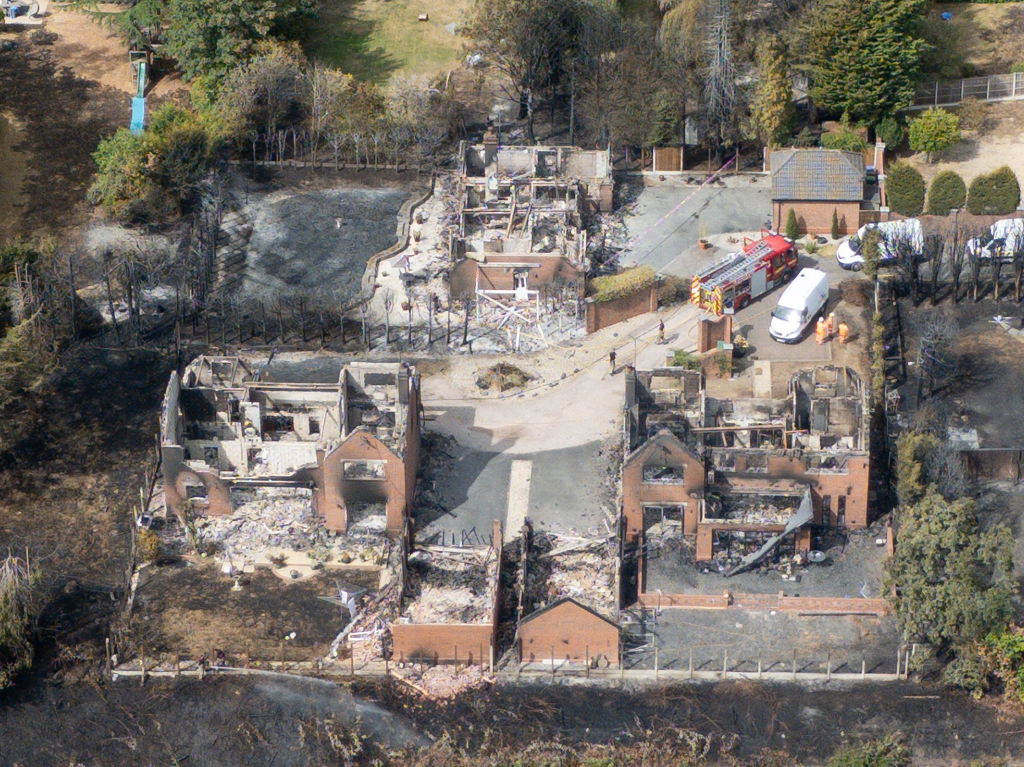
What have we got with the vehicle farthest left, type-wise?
truck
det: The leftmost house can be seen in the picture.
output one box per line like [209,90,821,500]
[156,354,421,533]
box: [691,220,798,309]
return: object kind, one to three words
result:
truck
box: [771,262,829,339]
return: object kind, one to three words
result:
van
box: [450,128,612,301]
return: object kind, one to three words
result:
house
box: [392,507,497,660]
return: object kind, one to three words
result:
building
